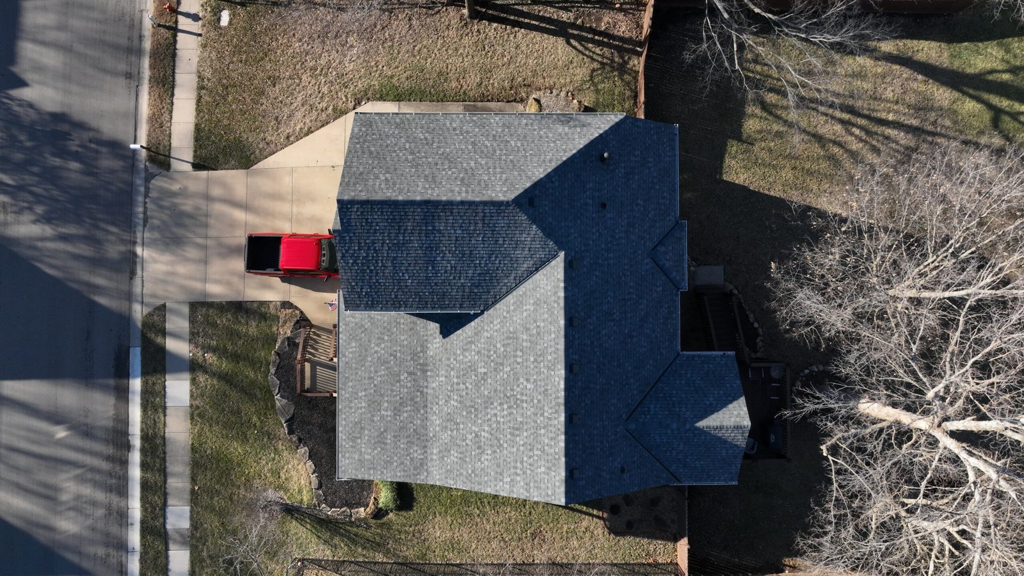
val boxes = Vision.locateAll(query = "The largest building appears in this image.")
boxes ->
[332,112,751,506]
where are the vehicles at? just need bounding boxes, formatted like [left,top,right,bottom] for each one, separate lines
[241,227,340,281]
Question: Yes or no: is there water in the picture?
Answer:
No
